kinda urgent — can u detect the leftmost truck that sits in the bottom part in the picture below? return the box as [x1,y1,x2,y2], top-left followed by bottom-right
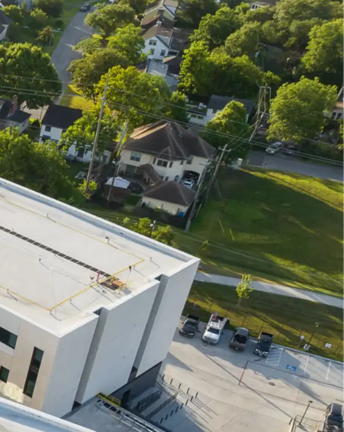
[179,311,202,338]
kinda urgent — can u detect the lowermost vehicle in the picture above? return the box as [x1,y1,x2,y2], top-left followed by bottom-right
[321,399,344,426]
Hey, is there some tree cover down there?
Yes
